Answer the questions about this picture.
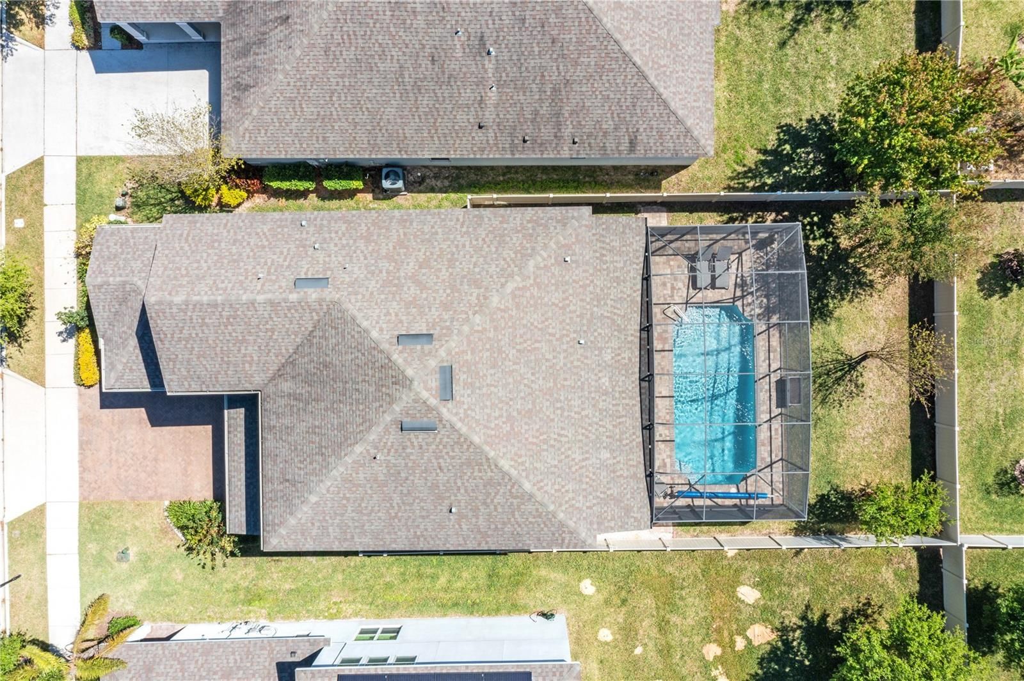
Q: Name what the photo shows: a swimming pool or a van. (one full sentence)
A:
There is a swimming pool in the scene.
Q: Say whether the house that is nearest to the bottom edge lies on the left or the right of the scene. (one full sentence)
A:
The house that is nearest to the bottom edge is on the left side of the image.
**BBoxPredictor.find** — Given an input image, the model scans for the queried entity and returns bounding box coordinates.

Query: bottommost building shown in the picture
[112,616,582,681]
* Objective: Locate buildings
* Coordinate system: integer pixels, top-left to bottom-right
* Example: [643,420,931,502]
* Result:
[85,205,651,556]
[93,0,718,169]
[112,616,582,681]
